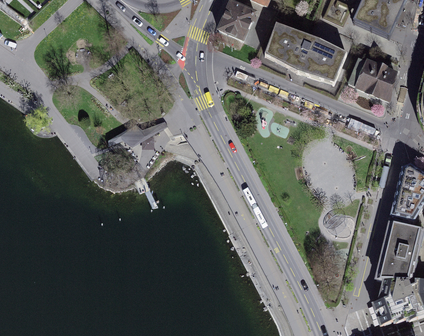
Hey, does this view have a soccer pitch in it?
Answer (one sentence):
No, the scene contains no soccer pitch.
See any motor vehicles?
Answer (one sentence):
Yes, the picture does show a motor vehicle.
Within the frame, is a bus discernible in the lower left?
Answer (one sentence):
No, there's no bus to be seen in the lower left.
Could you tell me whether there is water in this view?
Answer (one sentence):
Yes, there's water in this view.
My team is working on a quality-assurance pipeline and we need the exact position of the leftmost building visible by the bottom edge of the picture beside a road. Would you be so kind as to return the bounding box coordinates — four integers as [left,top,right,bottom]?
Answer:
[368,298,393,328]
